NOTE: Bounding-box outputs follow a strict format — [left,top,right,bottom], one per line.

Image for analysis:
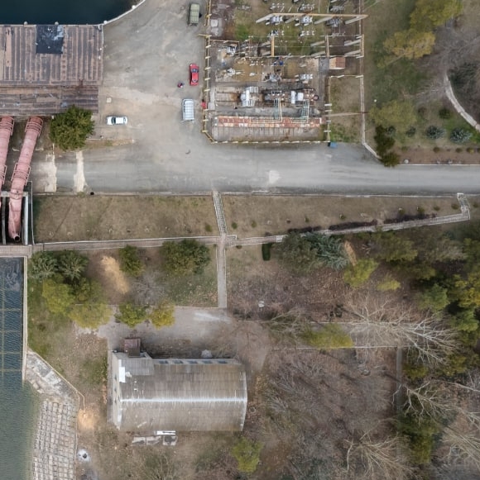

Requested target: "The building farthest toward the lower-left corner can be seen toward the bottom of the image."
[112,336,249,431]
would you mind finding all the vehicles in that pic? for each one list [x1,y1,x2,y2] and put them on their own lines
[187,3,201,26]
[107,115,127,124]
[180,98,193,122]
[188,63,200,86]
